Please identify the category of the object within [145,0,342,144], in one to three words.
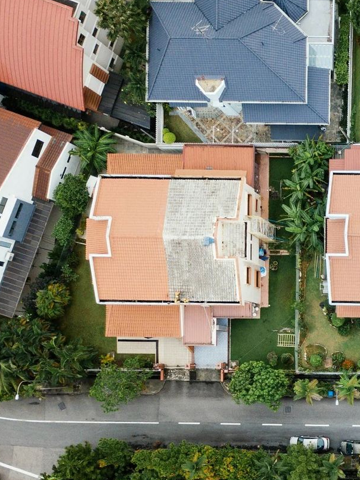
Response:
house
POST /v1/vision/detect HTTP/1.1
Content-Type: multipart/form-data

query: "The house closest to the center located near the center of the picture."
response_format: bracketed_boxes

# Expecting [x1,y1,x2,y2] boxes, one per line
[86,145,275,345]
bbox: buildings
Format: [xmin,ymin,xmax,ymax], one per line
[0,109,97,318]
[145,0,342,144]
[325,145,360,318]
[0,0,157,132]
[86,145,275,345]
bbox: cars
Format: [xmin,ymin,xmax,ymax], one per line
[341,437,360,457]
[291,434,331,451]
